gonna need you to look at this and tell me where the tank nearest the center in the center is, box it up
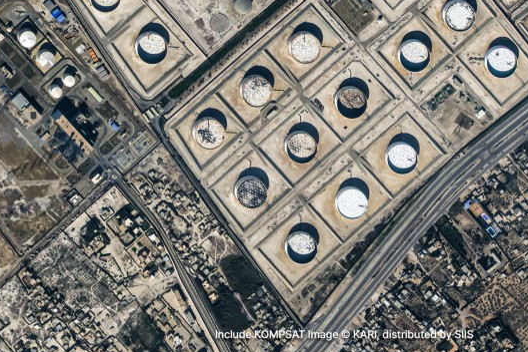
[234,161,268,209]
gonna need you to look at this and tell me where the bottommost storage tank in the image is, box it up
[284,217,317,264]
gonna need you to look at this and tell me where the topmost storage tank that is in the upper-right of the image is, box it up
[442,0,476,41]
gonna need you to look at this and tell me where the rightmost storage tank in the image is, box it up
[472,43,519,77]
